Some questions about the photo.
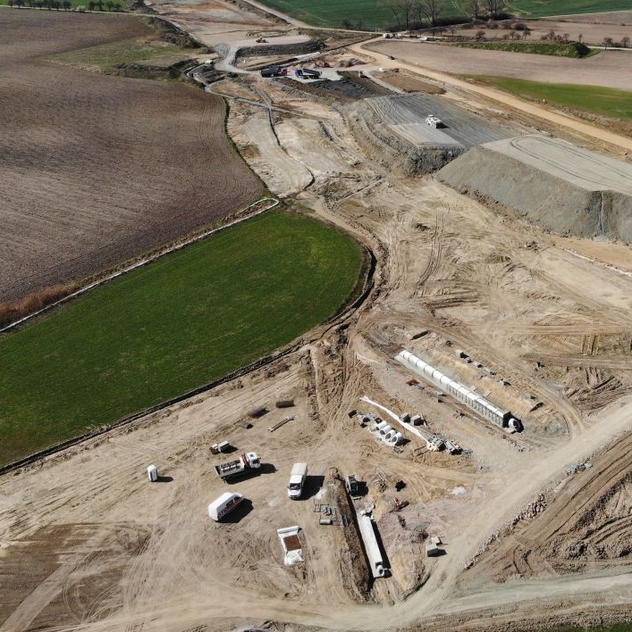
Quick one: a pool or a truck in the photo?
truck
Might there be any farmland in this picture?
Yes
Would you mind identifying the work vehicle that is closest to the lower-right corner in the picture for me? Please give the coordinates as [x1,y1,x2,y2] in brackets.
[346,471,361,494]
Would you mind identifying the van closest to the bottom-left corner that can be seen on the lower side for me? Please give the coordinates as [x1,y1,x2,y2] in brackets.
[203,487,249,523]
